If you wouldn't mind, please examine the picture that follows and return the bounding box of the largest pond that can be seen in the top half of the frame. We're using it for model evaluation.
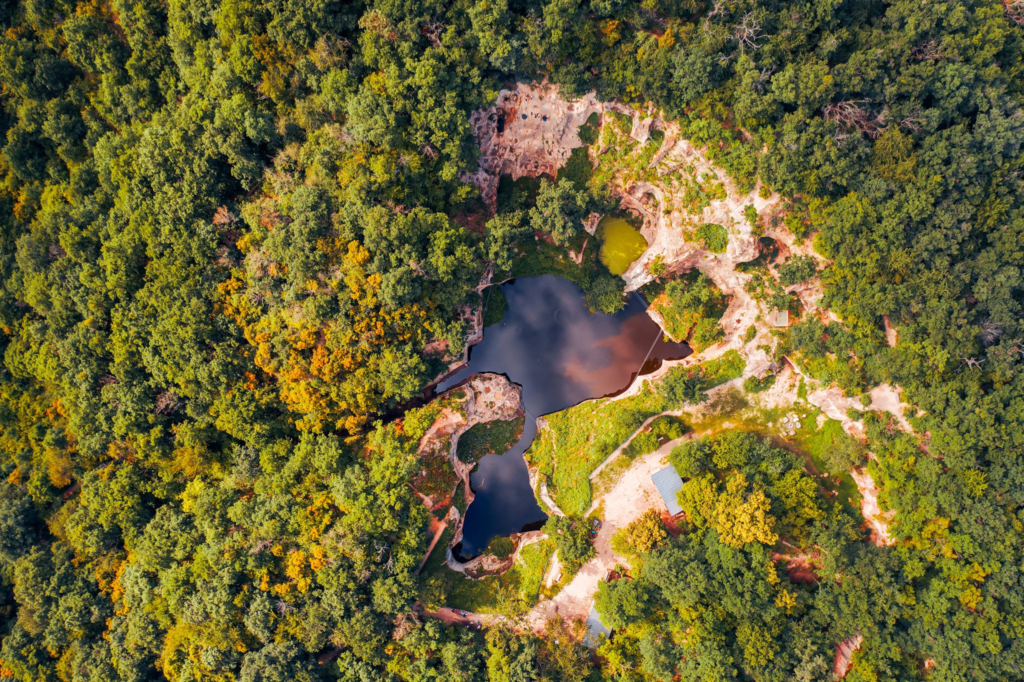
[596,216,646,275]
